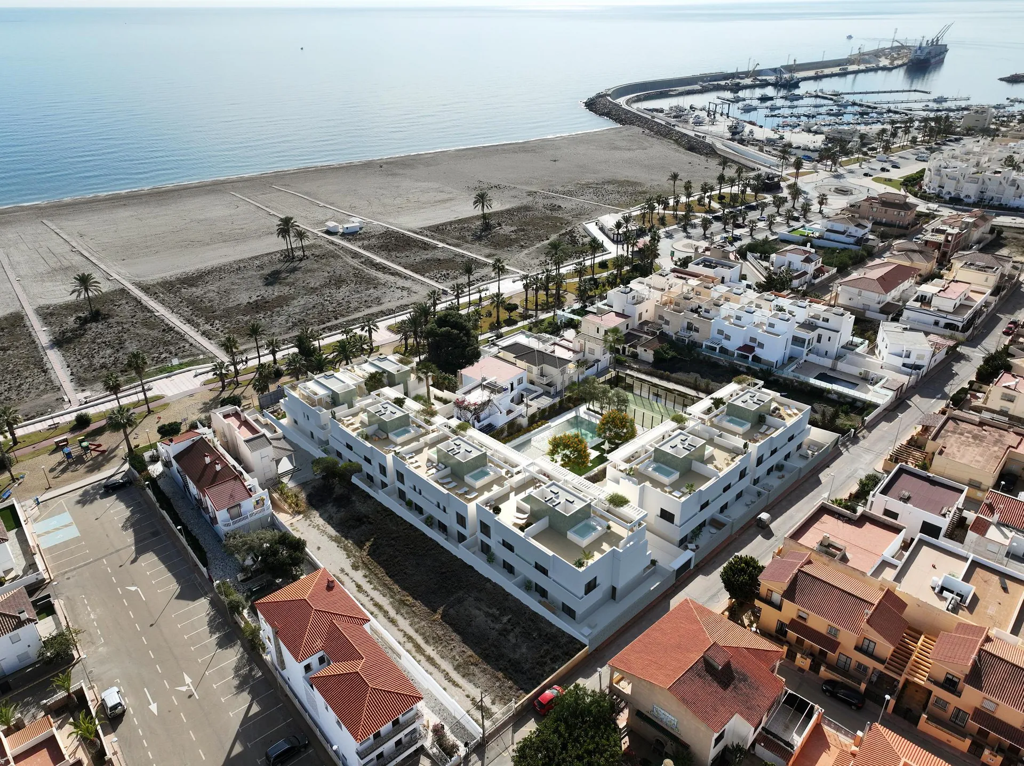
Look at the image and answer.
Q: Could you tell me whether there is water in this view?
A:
Yes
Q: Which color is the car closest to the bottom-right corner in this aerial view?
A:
black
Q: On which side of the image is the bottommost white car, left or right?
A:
left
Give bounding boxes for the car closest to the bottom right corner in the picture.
[819,679,868,712]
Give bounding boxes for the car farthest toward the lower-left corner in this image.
[99,683,128,720]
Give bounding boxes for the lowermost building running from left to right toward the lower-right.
[843,716,959,766]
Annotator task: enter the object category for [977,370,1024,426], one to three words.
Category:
house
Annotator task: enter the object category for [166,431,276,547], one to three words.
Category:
house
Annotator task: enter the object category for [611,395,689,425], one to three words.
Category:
sports court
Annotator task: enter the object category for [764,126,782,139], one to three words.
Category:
boat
